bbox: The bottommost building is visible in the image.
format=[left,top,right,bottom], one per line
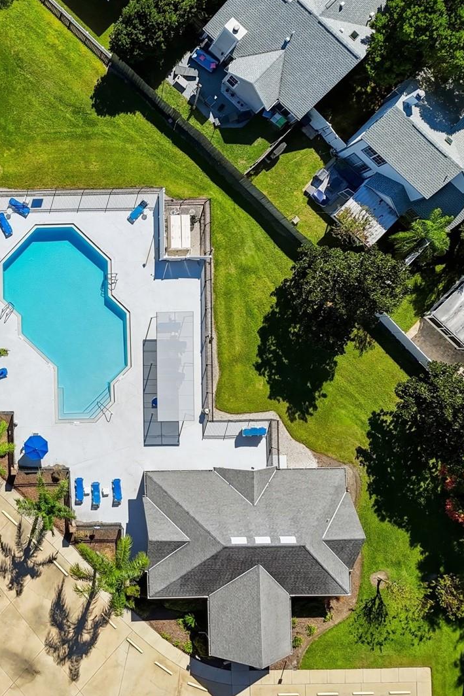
[143,465,366,668]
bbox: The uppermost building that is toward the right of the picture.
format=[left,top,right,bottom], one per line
[197,0,406,124]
